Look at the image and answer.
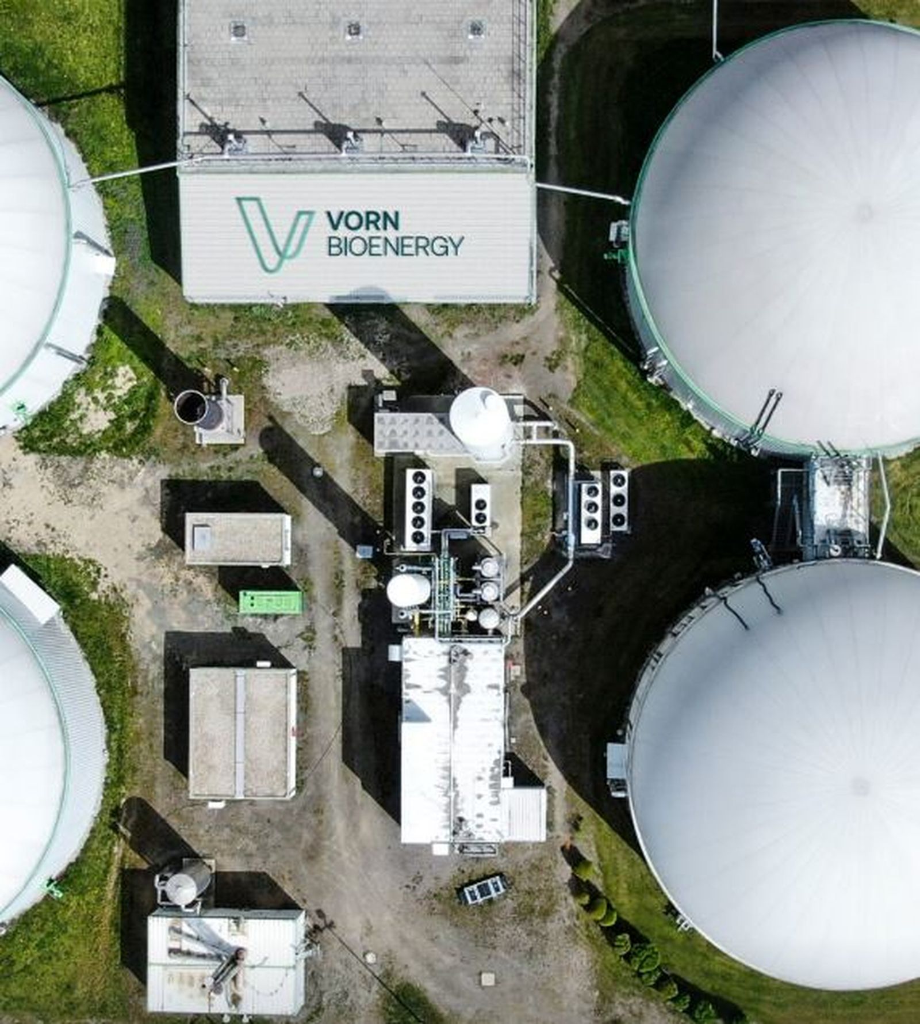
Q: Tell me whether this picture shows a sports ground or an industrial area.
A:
industrial area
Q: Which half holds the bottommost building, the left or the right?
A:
left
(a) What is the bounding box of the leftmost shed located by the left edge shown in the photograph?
[0,563,71,622]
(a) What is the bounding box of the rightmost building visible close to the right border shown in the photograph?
[794,455,874,560]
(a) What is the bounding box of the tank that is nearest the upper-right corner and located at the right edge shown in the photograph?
[603,20,920,466]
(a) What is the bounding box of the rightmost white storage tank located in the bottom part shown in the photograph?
[600,554,920,990]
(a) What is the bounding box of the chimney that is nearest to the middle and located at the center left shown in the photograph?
[174,379,246,444]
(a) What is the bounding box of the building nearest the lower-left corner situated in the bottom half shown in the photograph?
[146,906,321,1021]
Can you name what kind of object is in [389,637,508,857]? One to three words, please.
building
